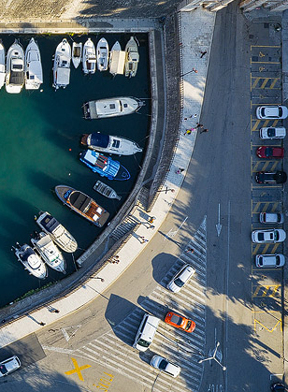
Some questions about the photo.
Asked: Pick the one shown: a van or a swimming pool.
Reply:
van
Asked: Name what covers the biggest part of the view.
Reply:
paved ground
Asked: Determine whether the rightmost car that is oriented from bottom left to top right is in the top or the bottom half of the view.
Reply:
bottom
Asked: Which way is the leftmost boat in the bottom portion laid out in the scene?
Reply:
diagonally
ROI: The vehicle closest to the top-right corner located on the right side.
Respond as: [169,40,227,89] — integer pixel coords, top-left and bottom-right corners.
[254,104,287,120]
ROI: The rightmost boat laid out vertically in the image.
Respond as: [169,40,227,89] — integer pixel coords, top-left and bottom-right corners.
[121,35,141,81]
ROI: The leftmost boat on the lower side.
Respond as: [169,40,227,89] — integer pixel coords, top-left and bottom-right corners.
[11,242,48,285]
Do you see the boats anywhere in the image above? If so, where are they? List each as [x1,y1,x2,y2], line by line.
[75,131,143,158]
[23,36,41,97]
[50,35,75,93]
[31,233,67,272]
[11,242,48,285]
[35,211,77,261]
[56,187,110,232]
[5,35,25,98]
[78,153,131,180]
[106,34,128,85]
[81,97,151,122]
[121,35,141,81]
[71,40,81,70]
[91,179,124,200]
[80,35,98,81]
[94,36,112,82]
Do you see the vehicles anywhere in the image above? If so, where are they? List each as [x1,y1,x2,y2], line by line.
[257,125,287,139]
[254,104,287,120]
[148,354,182,378]
[254,253,285,268]
[252,170,286,185]
[163,262,200,295]
[249,228,285,244]
[132,313,164,351]
[0,354,24,377]
[254,145,285,160]
[257,212,283,225]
